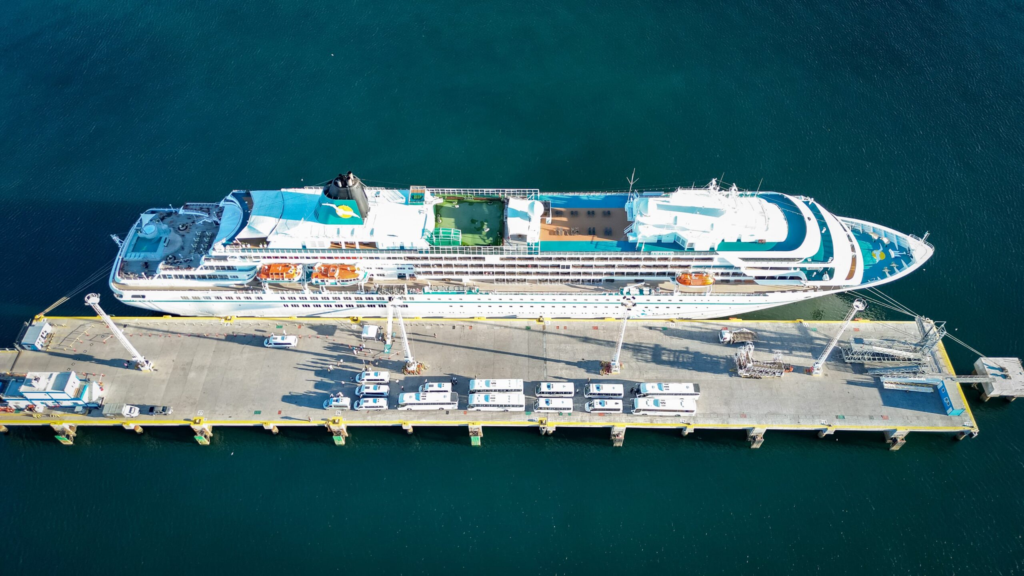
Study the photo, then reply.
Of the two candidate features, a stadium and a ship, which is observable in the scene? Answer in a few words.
ship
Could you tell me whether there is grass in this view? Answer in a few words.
No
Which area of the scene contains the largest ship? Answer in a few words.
center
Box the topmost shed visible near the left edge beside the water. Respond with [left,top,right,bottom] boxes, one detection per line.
[17,320,51,350]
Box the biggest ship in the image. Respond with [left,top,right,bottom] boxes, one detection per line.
[109,168,936,320]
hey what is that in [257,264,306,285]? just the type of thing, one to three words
boat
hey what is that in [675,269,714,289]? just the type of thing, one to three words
boat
